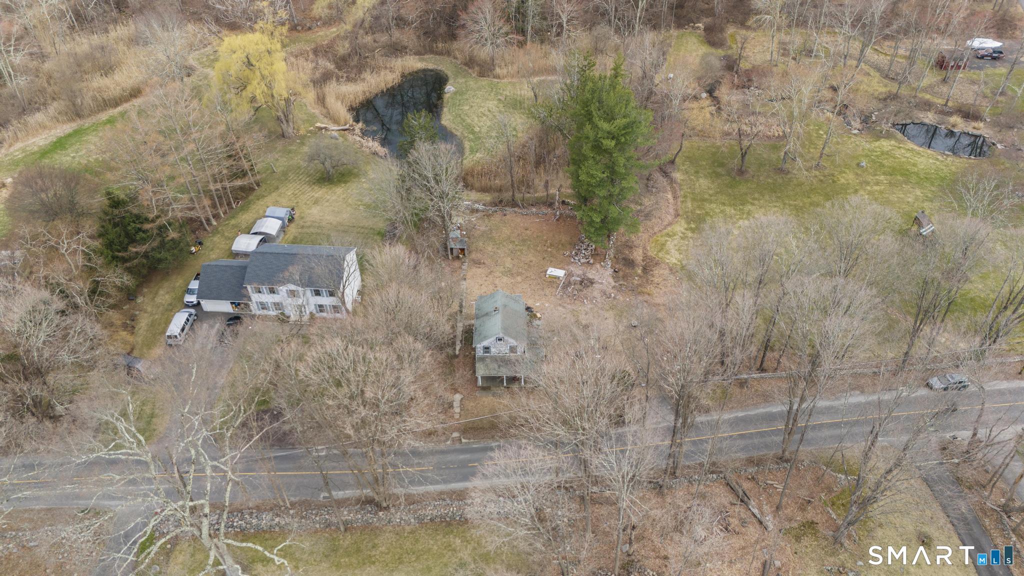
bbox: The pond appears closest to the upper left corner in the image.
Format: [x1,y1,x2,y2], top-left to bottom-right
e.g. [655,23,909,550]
[359,71,467,173]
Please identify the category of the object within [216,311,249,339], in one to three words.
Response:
car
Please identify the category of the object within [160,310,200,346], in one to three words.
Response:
van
